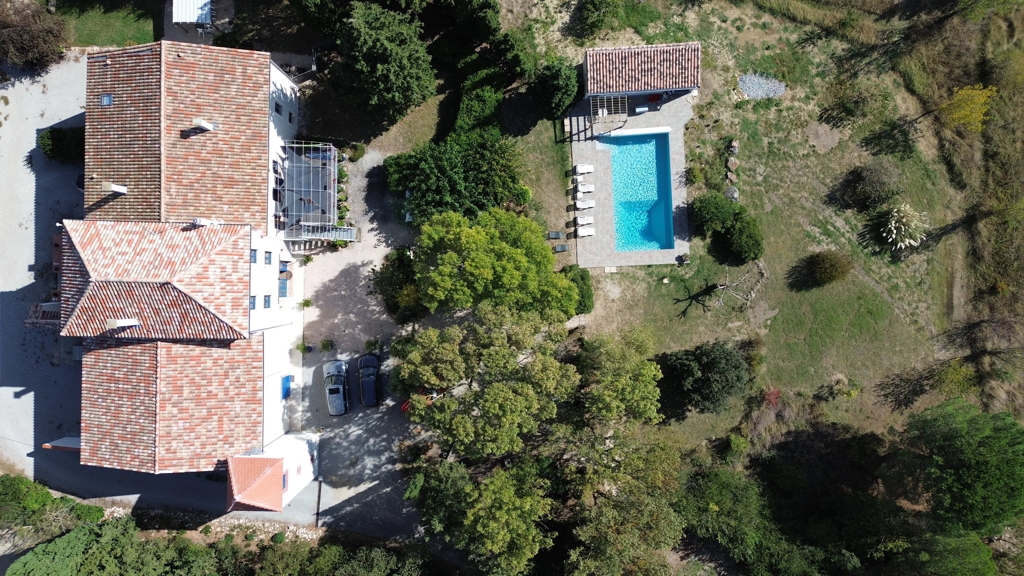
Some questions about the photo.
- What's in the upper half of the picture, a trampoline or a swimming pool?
swimming pool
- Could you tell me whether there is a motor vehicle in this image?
Yes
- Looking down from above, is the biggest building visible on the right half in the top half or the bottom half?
top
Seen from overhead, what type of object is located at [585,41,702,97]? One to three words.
building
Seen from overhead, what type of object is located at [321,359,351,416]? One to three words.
car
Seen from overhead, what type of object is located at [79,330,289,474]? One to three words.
house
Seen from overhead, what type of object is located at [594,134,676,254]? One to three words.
swimming pool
